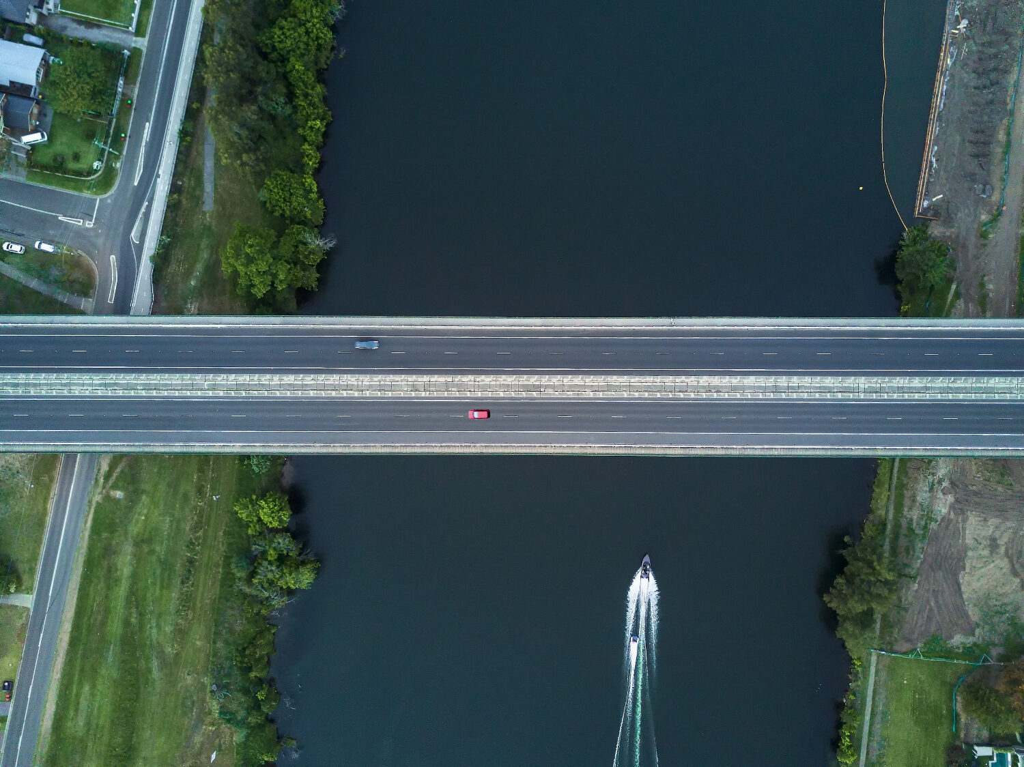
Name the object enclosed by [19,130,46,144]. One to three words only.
vehicle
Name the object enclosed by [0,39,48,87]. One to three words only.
house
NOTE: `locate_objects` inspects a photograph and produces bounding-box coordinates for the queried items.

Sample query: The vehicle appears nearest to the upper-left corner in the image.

[22,31,43,44]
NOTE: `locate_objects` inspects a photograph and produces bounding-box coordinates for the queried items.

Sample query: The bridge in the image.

[0,314,1024,457]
